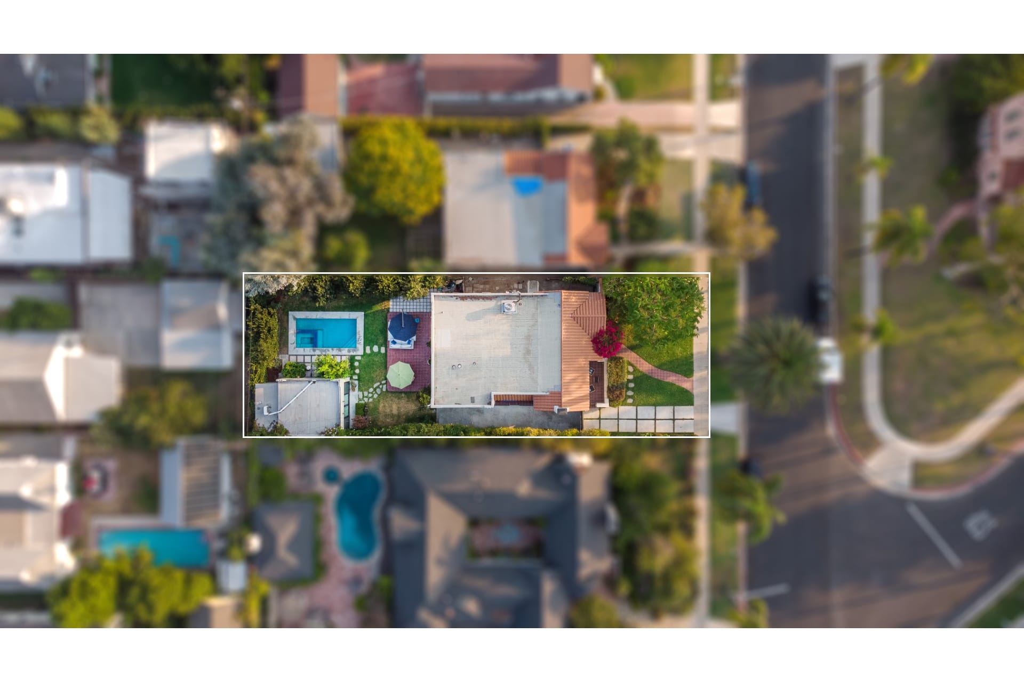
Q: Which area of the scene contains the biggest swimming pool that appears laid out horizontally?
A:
bottom left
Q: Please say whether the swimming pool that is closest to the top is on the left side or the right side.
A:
left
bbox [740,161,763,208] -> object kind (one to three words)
car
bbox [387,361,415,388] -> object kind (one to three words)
umbrella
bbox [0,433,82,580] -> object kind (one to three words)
house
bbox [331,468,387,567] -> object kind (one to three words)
swimming pool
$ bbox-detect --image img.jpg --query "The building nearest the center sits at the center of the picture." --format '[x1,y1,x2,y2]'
[431,291,608,415]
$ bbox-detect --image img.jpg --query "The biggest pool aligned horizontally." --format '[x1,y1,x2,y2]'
[91,518,214,573]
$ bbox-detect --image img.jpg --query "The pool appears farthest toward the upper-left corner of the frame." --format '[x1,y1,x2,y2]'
[288,312,364,355]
